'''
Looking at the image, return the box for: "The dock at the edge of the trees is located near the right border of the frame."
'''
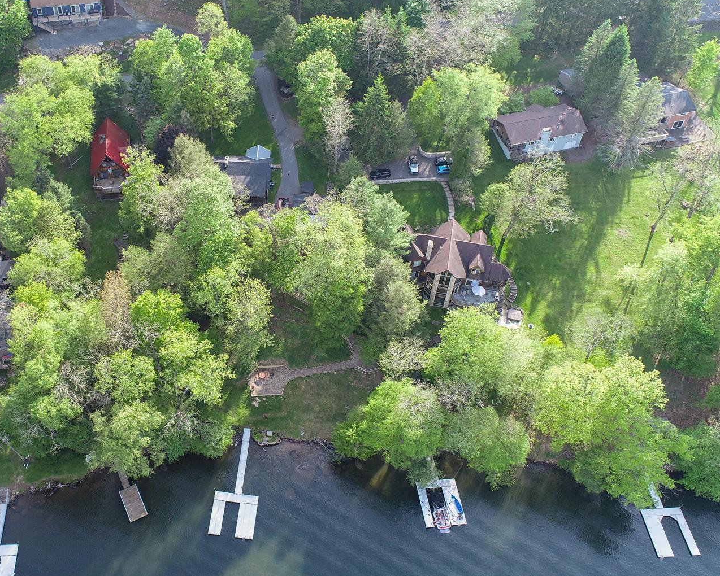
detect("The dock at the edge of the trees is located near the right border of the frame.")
[637,483,704,560]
